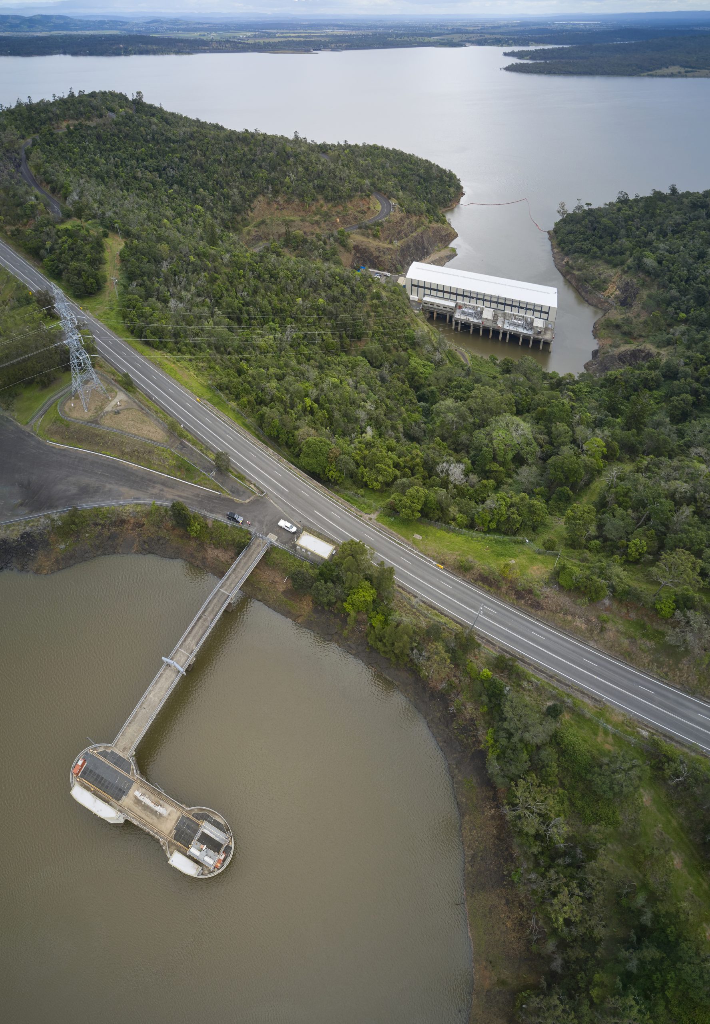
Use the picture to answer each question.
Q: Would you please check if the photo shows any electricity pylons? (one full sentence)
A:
Yes, looking at the shot, I can spot an electricity pylon.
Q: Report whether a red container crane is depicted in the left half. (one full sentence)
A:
No, looking in the left half, there is no red container crane.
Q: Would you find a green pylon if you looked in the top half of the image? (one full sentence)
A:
No, I can find no green pylon in the top half of the image.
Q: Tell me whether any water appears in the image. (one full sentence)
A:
Yes, there is water in the image.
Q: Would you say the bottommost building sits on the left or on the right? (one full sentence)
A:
The bottommost building sits on the left side.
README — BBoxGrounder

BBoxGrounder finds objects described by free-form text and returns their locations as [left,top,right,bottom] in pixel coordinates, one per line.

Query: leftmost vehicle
[225,511,244,524]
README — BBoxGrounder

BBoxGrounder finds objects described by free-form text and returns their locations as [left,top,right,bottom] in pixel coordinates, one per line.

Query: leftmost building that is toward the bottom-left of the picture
[70,784,129,830]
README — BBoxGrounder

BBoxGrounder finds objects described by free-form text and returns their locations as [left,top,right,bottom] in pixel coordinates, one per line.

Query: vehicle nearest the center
[277,518,297,532]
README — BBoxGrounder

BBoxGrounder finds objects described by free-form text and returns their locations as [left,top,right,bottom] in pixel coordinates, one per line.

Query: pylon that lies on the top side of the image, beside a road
[38,278,113,412]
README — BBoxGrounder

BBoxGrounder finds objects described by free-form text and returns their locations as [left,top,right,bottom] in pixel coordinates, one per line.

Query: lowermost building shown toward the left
[168,850,205,880]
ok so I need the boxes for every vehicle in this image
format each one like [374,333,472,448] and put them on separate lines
[277,518,297,532]
[225,511,244,524]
